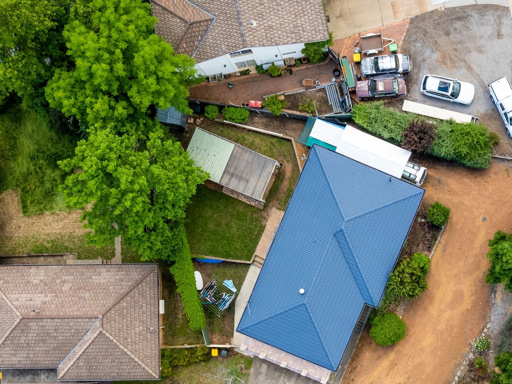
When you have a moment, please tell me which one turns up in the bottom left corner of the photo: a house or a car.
house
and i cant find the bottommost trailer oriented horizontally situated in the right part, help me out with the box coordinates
[404,95,479,122]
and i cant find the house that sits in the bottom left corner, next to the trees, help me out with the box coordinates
[0,262,170,384]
